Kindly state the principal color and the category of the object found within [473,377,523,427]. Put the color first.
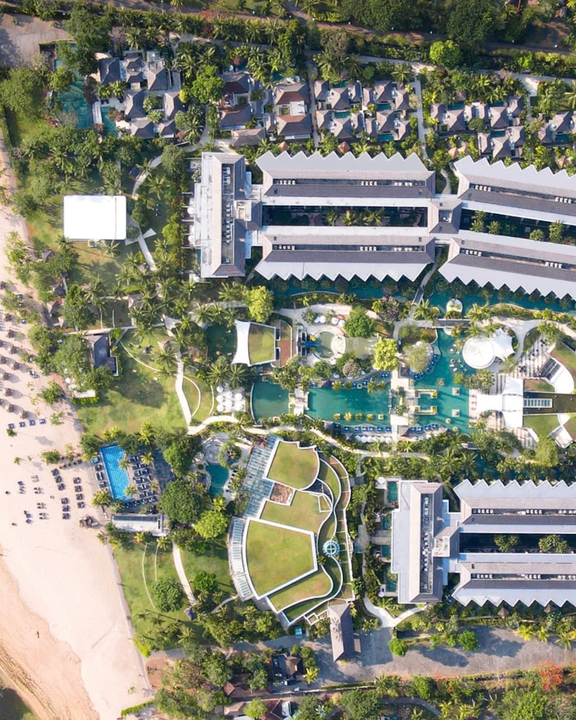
white tent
